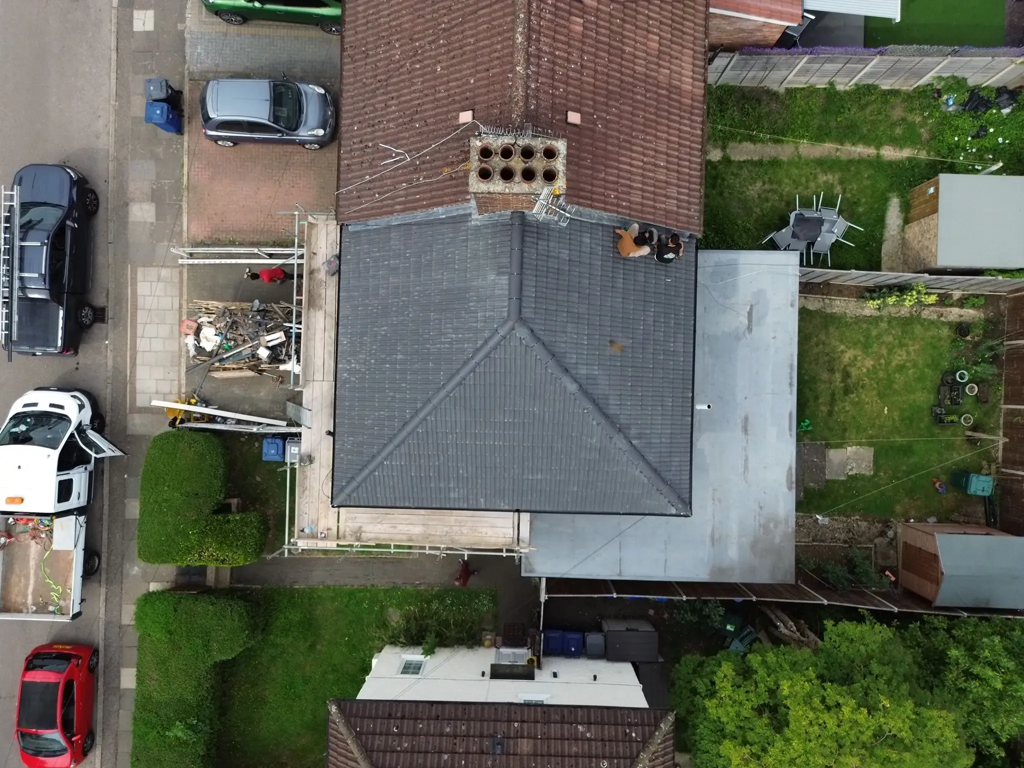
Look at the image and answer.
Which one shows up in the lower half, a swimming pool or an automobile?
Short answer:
automobile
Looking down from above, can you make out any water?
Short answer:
No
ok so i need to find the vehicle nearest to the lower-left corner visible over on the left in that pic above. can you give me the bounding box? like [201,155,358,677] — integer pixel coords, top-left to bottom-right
[2,637,96,768]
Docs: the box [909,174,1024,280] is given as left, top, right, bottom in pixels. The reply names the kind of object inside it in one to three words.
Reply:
shed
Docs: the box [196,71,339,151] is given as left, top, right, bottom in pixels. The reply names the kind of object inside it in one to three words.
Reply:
car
